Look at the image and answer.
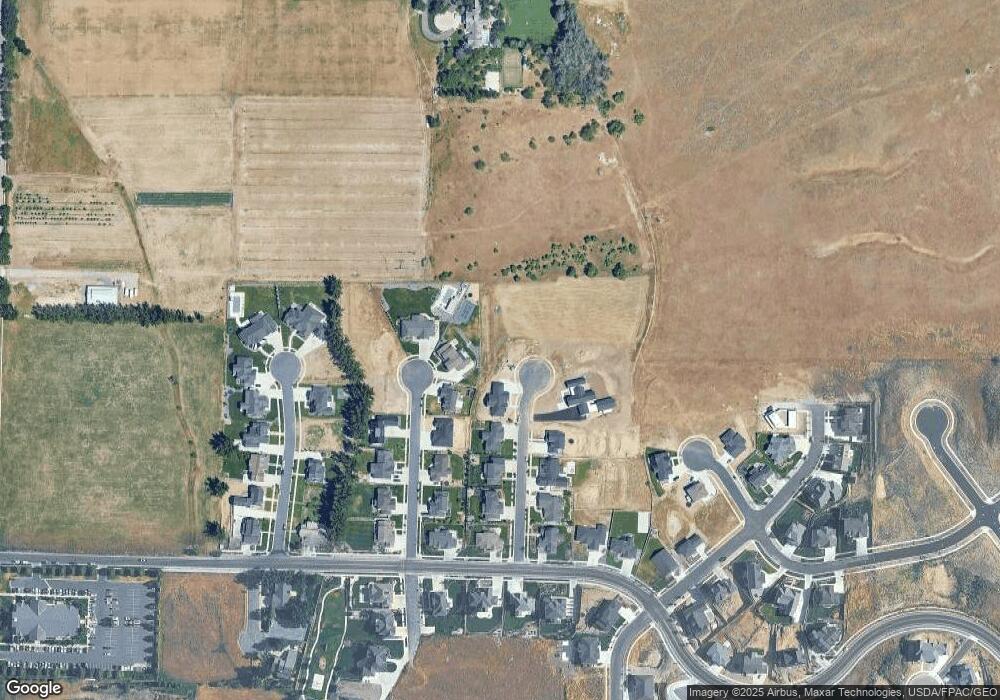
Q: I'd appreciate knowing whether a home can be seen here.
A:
Yes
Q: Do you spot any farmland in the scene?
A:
Yes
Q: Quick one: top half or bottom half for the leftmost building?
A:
bottom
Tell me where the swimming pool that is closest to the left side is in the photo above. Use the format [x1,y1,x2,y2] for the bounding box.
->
[229,292,245,317]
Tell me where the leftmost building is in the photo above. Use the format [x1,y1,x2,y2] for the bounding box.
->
[13,599,80,643]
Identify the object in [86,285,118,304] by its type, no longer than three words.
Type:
barn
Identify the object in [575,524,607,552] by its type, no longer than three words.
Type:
house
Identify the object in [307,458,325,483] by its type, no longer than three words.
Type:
house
